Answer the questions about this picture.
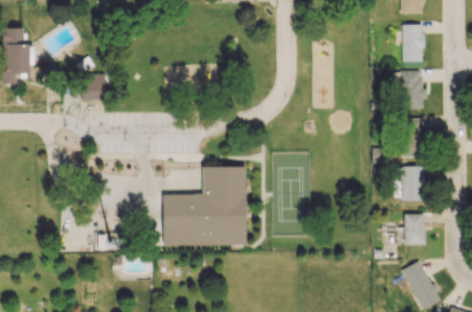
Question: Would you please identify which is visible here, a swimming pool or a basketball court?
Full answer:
I can see a swimming pool in this picture.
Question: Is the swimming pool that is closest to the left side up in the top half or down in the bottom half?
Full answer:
You can find the swimming pool that is closest to the left side in the top half.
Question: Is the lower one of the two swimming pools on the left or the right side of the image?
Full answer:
You can find the lower one of the two swimming pools on the left side of the picture.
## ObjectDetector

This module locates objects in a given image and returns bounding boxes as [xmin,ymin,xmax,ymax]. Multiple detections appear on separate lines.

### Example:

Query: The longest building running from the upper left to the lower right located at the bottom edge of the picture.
[402,261,442,310]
